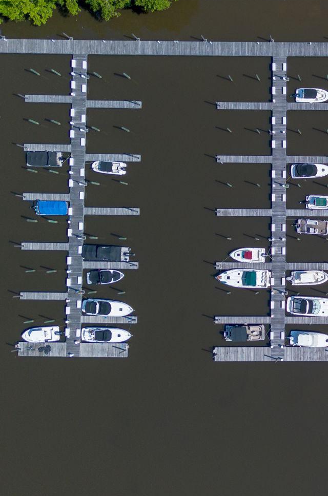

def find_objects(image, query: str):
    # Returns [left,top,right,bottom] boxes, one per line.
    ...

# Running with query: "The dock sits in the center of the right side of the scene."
[214,56,328,362]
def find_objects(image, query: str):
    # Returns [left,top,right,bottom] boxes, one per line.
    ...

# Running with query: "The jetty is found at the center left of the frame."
[18,54,142,358]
